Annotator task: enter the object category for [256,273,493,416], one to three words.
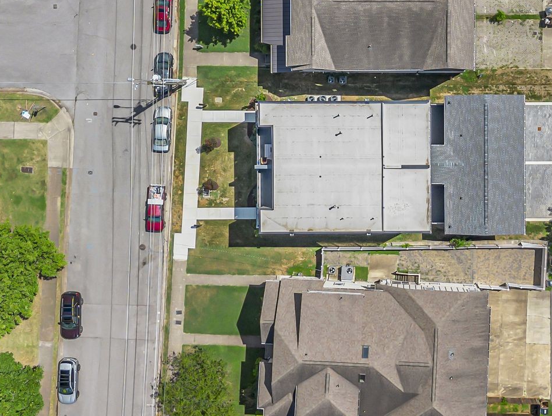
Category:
house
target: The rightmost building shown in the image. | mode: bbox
[431,95,526,235]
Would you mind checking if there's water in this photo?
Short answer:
No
